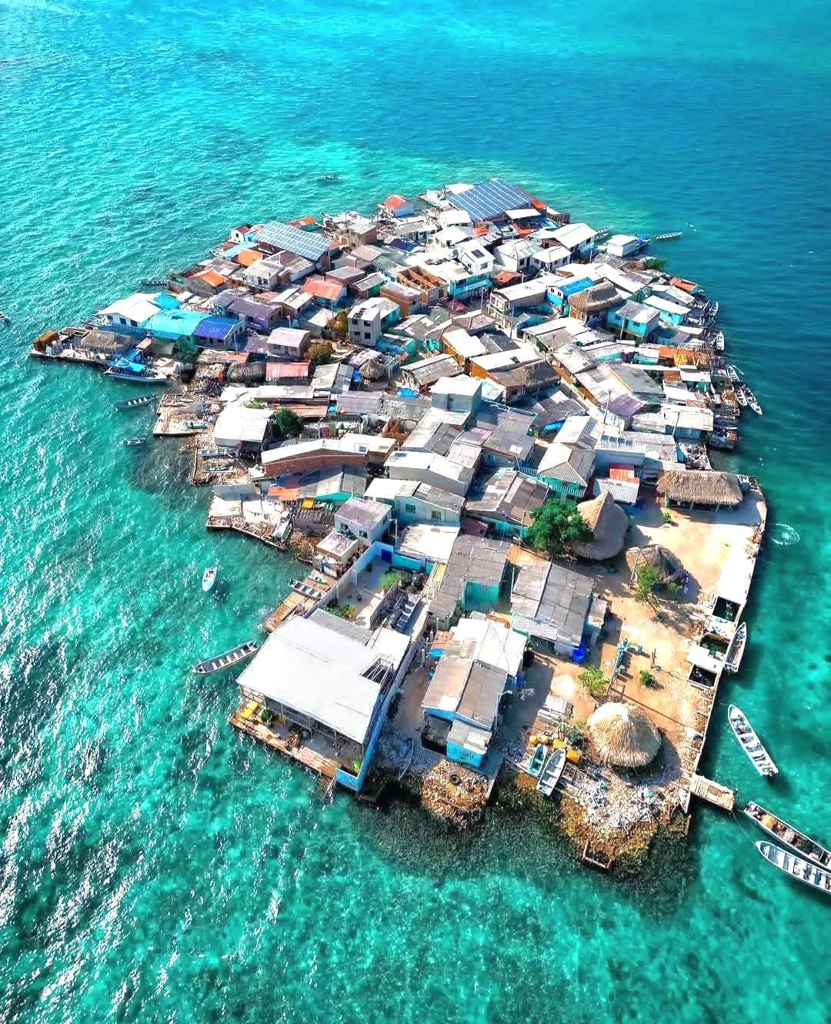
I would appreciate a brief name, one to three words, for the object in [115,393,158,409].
boat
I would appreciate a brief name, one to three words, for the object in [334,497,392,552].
house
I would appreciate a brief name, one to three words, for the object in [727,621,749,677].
boat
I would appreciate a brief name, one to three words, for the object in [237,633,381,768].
building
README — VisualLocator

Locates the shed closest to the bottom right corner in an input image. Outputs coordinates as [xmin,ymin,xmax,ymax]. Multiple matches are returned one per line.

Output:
[588,706,661,771]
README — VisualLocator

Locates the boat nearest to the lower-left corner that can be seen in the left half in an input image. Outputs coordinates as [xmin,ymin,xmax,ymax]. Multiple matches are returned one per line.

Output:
[193,638,260,674]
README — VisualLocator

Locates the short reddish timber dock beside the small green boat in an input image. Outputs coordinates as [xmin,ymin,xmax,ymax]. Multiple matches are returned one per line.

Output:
[293,573,330,614]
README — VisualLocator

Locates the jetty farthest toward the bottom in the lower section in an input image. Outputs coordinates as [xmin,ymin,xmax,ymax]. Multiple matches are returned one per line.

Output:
[694,773,735,816]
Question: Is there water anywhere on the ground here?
Yes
